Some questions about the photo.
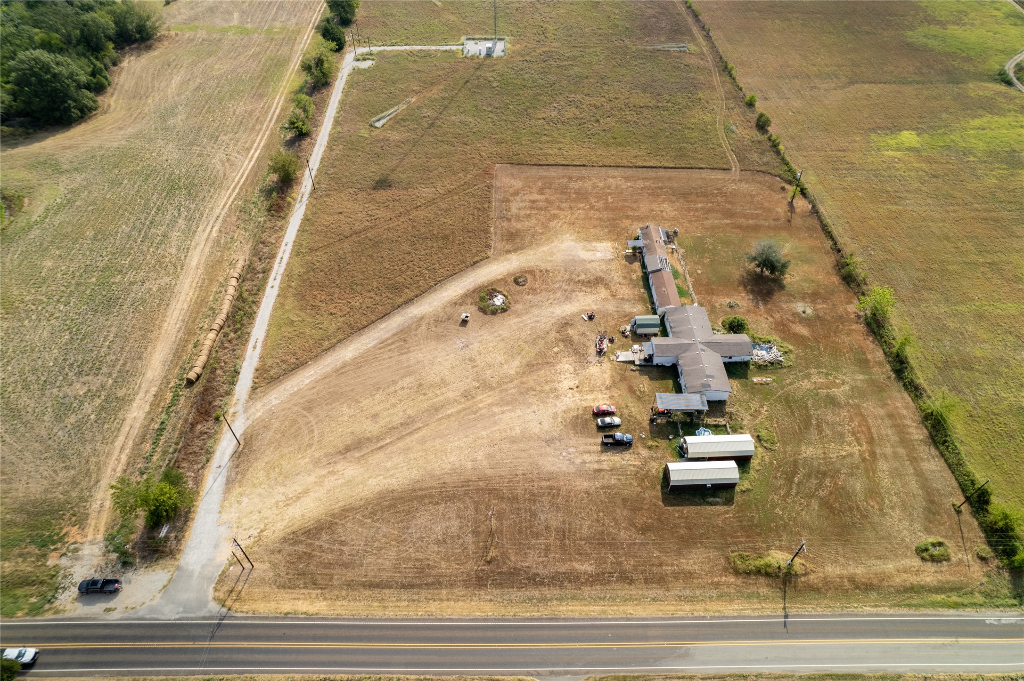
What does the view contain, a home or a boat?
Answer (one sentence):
This aerial view contains a home.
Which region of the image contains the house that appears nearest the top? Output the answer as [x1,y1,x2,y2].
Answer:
[639,223,671,279]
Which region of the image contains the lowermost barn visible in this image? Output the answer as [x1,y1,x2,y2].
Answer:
[665,464,739,490]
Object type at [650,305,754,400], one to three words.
house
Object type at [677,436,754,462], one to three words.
barn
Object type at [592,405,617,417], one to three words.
vehicle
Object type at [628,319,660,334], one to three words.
shed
